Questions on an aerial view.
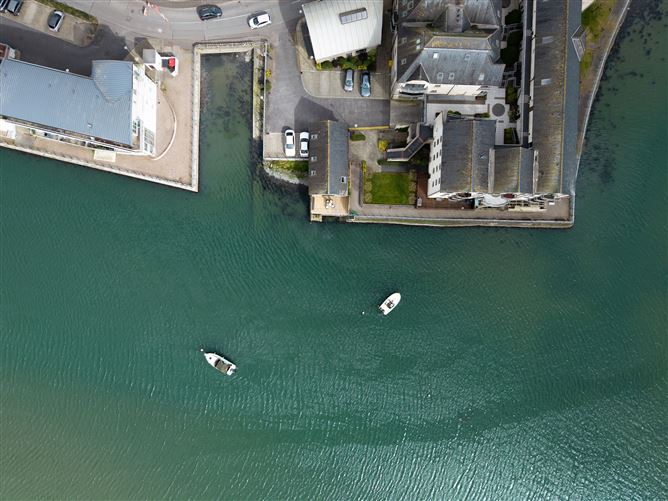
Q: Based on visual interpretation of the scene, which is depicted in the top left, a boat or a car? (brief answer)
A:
car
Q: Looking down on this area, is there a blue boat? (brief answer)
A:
No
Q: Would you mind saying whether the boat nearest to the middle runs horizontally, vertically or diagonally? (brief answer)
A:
diagonally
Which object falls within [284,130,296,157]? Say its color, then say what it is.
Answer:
white vehicle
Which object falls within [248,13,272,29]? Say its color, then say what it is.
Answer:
white car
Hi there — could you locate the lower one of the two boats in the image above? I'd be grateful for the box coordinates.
[204,354,235,375]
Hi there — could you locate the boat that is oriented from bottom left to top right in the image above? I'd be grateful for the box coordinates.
[379,294,401,315]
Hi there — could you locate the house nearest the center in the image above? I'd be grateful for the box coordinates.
[309,121,350,197]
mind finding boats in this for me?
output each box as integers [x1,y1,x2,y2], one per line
[204,354,235,375]
[379,294,401,315]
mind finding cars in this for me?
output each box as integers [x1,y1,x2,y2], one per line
[248,13,272,29]
[343,70,354,93]
[359,72,372,98]
[48,7,66,32]
[196,4,221,20]
[298,132,309,157]
[4,0,24,18]
[284,130,296,157]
